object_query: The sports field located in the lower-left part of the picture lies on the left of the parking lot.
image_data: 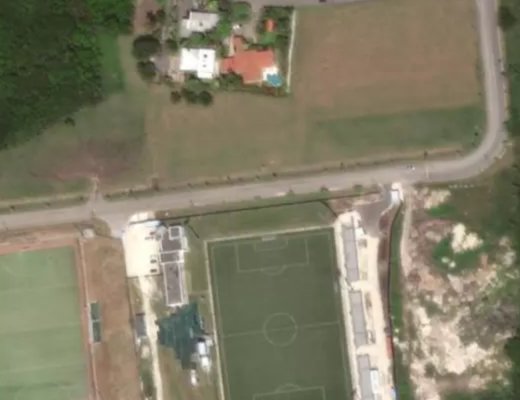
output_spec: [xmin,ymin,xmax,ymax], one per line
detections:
[0,246,91,400]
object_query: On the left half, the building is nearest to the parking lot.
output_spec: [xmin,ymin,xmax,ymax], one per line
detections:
[160,224,187,305]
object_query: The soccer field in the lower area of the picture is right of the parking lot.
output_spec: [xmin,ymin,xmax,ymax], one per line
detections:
[207,226,353,400]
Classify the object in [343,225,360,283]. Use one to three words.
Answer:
building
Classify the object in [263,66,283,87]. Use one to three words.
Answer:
swimming pool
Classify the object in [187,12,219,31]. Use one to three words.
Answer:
house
